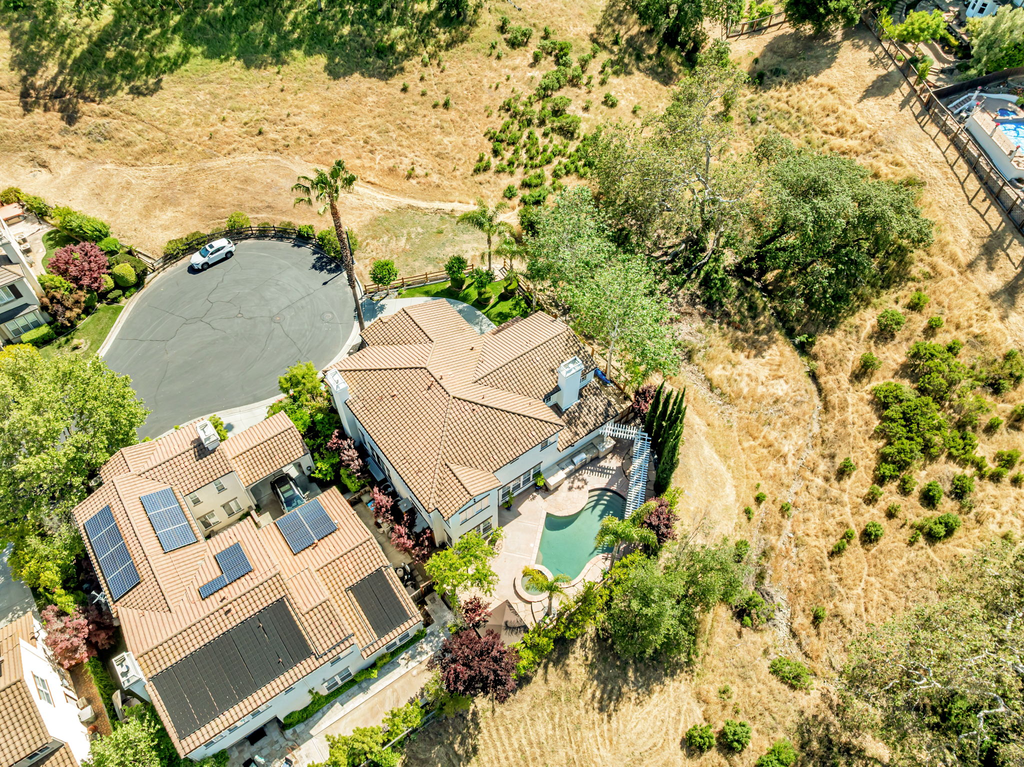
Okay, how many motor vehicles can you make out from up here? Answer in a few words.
2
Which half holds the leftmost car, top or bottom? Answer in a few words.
top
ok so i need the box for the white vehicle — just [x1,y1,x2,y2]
[187,237,236,270]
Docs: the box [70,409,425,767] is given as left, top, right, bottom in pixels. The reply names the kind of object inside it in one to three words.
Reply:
house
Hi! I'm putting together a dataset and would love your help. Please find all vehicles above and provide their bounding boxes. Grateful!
[266,469,309,514]
[187,237,236,270]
